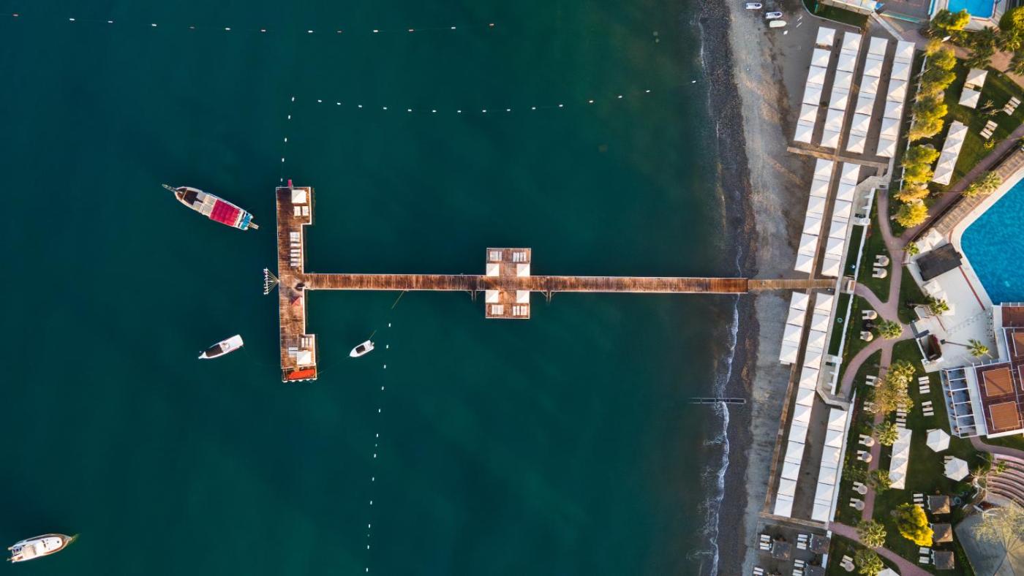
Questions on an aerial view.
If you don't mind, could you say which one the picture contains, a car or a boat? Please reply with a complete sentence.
Visible in the photo is a boat.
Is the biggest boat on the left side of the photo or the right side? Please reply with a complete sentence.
The biggest boat appears in the left half of the scene.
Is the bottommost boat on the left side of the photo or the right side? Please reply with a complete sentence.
The bottommost boat sits on the left side.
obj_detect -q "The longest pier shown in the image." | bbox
[276,187,748,383]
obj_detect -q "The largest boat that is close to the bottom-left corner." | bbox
[8,534,77,562]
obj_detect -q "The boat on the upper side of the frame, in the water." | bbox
[163,185,259,231]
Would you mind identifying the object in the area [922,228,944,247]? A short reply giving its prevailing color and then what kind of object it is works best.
white umbrella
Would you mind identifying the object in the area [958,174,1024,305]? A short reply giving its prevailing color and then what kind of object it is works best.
blue swimming pool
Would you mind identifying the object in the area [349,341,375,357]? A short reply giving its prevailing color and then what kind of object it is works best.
white boat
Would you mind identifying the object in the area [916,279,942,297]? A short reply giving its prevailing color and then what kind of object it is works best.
white umbrella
